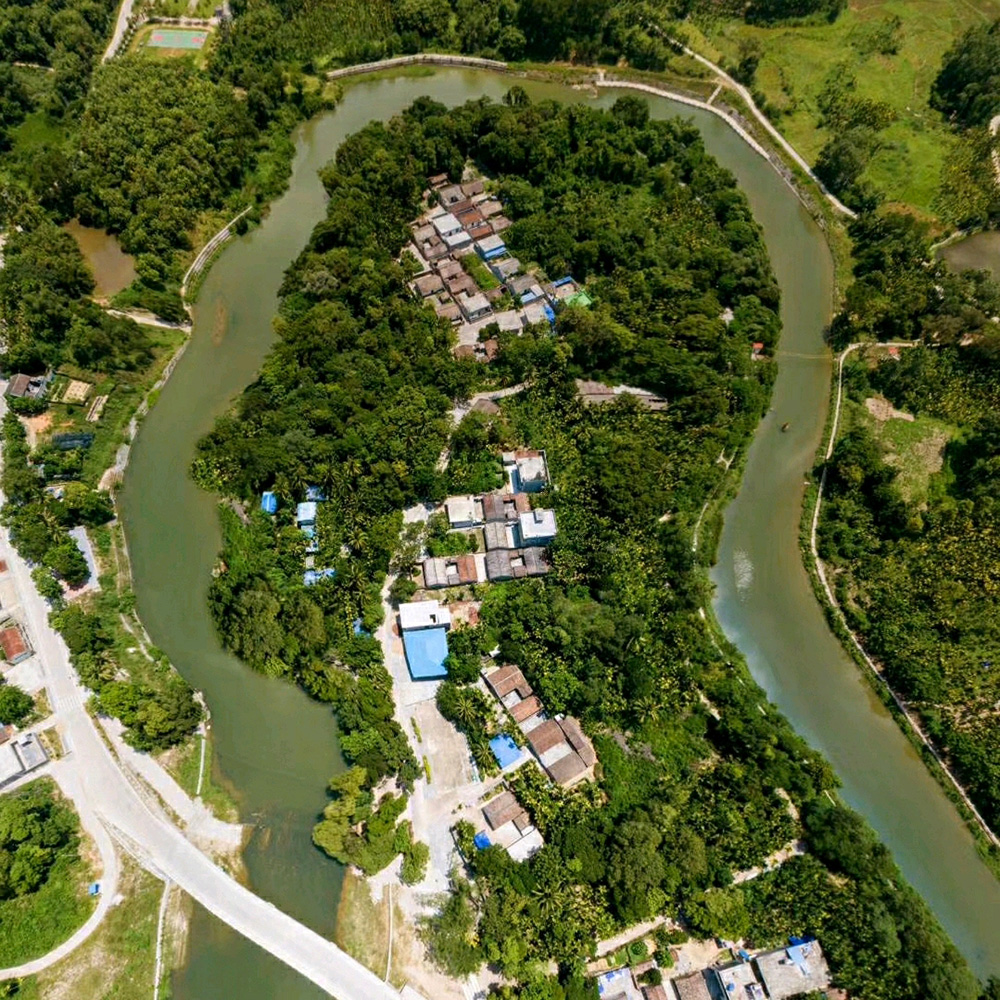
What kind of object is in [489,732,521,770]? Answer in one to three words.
shed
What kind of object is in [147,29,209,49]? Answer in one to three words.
basketball court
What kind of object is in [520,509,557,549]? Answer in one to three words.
house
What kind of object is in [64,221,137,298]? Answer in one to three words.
pond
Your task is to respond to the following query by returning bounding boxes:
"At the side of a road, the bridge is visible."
[167,854,406,1000]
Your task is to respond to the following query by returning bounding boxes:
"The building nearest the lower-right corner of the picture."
[751,940,830,1000]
